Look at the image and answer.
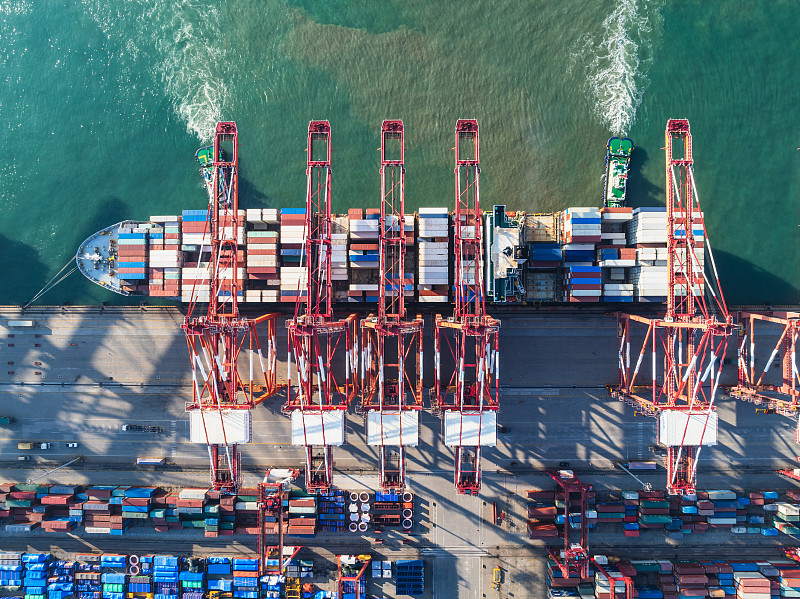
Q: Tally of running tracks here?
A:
none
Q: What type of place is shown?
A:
port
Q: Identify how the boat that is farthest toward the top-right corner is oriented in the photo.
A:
from top to bottom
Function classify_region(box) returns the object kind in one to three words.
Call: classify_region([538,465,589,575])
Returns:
crane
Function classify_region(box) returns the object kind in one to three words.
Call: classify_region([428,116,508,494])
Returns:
container crane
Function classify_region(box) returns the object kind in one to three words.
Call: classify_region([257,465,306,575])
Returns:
crane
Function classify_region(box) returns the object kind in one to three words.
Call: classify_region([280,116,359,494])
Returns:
container crane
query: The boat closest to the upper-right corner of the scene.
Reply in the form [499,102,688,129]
[601,134,634,208]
